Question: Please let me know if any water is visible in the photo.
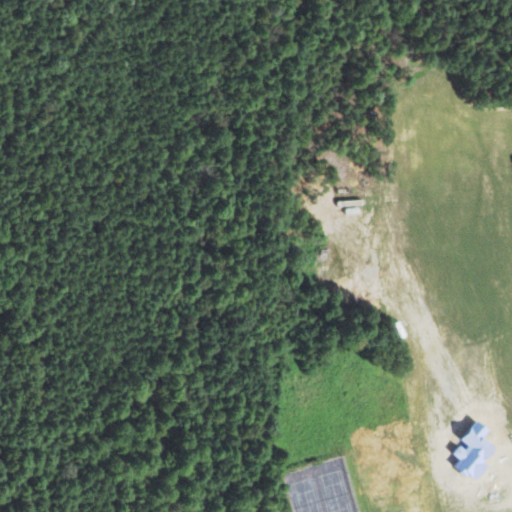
No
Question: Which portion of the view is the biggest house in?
bottom right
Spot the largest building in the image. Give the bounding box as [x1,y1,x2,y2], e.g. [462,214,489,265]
[454,422,497,480]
